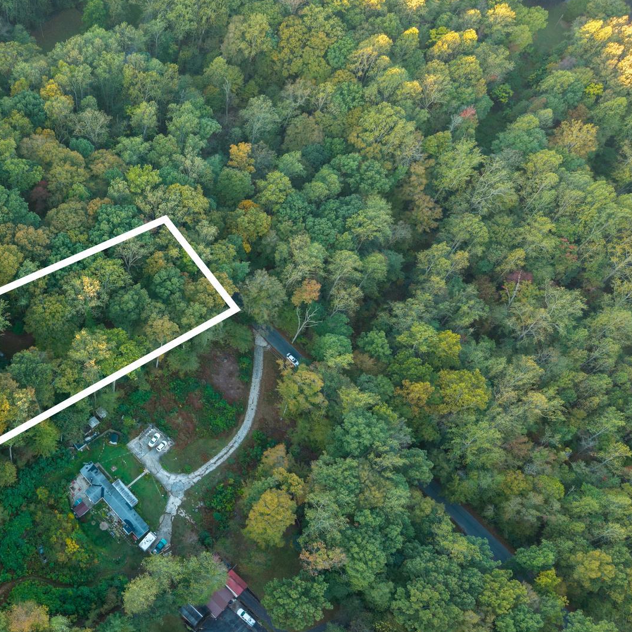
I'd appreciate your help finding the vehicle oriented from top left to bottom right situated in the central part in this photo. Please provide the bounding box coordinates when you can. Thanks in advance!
[285,353,301,368]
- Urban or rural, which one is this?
rural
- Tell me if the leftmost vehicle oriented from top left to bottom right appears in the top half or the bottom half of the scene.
bottom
